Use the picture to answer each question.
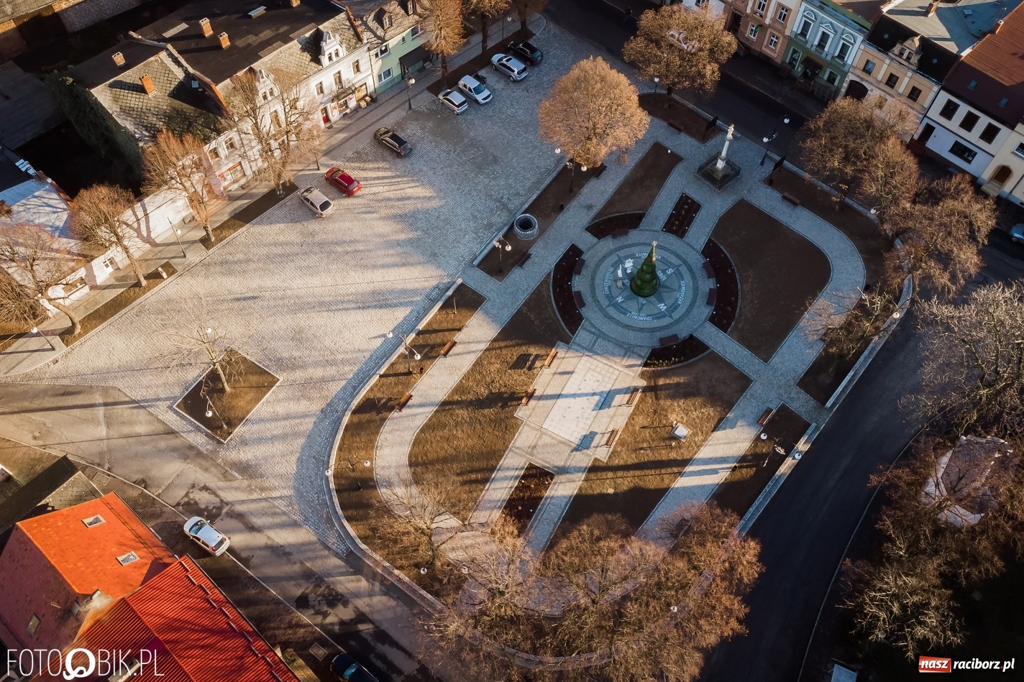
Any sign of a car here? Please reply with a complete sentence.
Yes, there is a car in the image.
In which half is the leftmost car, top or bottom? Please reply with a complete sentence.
You can find the leftmost car in the bottom half.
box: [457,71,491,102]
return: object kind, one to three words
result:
car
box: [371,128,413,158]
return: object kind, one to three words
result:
car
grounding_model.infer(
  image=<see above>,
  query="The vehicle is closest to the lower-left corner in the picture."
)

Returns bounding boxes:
[181,520,230,560]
